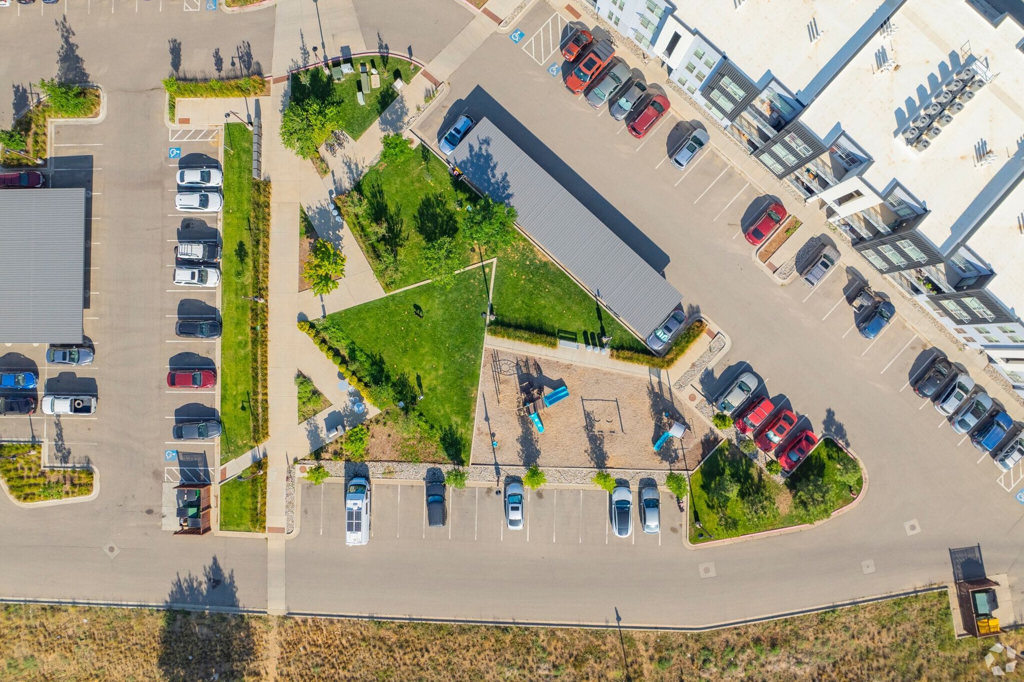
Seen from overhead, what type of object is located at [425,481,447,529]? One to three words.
truck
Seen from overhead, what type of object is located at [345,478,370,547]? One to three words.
vehicle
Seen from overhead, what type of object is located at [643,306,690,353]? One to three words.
car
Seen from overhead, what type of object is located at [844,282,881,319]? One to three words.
car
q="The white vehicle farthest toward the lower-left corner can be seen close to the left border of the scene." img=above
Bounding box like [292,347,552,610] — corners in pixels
[42,394,100,417]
